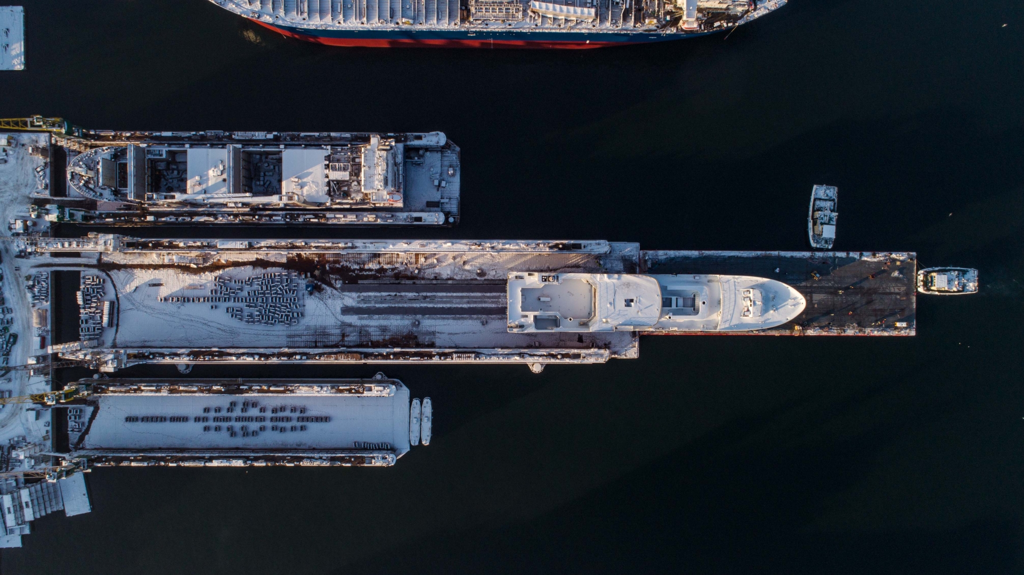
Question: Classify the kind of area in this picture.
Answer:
port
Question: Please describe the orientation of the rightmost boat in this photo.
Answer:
from left to right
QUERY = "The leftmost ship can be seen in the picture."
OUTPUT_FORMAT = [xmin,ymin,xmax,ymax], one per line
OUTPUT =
[0,6,28,71]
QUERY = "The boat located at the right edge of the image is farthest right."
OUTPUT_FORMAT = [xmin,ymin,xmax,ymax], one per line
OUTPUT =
[916,266,978,295]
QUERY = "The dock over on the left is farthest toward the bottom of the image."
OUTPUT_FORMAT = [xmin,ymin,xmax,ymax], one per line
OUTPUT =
[0,477,64,547]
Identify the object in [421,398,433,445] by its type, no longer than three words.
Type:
boat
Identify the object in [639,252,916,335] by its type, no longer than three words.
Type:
ship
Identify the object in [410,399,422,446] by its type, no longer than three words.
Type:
boat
